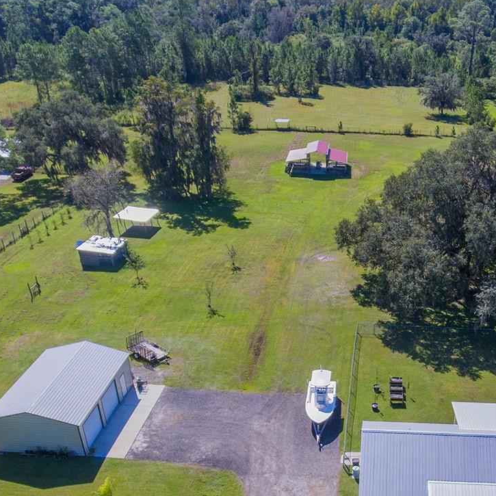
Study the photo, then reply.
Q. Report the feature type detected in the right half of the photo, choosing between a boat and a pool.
boat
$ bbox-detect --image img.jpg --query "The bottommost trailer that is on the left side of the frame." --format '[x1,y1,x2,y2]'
[124,330,169,369]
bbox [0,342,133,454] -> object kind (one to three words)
building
